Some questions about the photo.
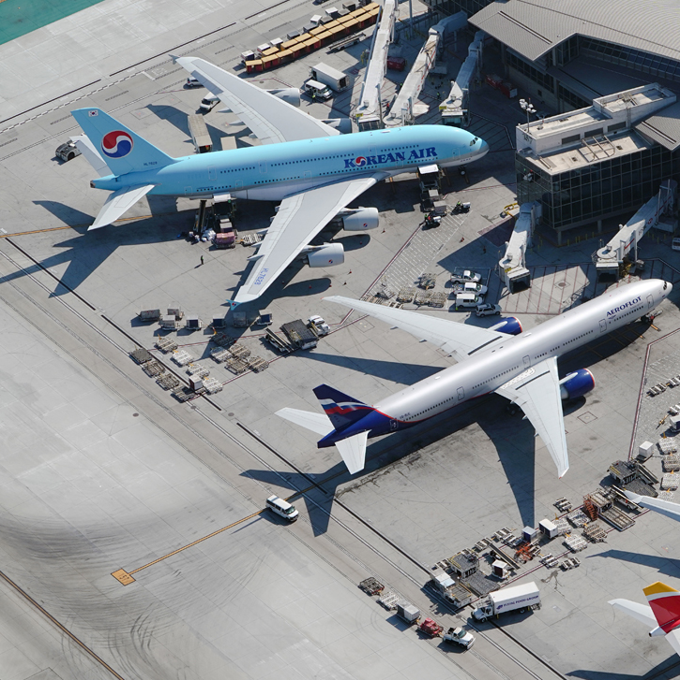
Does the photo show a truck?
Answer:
Yes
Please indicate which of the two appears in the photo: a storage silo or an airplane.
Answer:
airplane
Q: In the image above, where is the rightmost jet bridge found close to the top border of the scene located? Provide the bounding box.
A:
[441,32,492,123]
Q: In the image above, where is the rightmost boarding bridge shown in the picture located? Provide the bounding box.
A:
[592,181,679,279]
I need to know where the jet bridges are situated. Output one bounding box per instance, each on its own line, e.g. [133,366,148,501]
[382,11,472,129]
[592,181,679,279]
[355,0,410,129]
[441,32,492,123]
[497,200,543,287]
